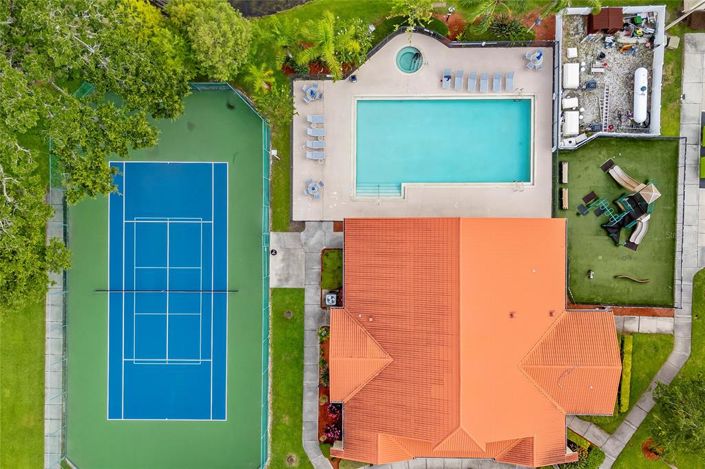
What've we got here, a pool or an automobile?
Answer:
pool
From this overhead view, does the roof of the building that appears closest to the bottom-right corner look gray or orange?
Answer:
orange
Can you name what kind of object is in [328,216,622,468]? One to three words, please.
building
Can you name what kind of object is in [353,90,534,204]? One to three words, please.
swimming pool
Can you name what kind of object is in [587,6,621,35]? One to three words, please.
shed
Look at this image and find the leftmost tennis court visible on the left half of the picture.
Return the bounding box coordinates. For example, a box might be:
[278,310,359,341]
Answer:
[66,90,269,469]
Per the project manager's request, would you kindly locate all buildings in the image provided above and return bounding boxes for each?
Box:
[675,0,705,17]
[328,216,622,468]
[587,6,621,35]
